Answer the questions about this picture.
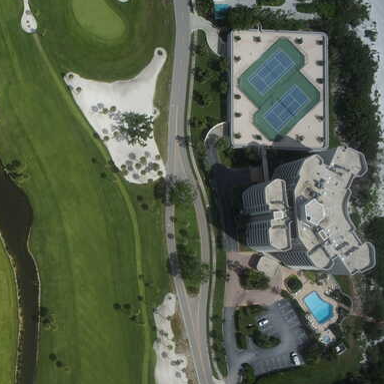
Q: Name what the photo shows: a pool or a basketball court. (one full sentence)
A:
The image shows a pool.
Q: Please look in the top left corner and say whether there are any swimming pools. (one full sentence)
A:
No, no swimming pool is visible in the top left corner.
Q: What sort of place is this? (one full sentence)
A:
This image shows a golf course.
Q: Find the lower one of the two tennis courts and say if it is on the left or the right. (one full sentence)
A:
You can find the lower one of the two tennis courts on the right side of the picture.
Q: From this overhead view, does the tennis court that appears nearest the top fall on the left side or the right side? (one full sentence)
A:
The tennis court that appears nearest the top is on the right side of the image.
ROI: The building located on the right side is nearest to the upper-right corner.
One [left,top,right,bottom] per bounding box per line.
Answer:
[227,29,330,153]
